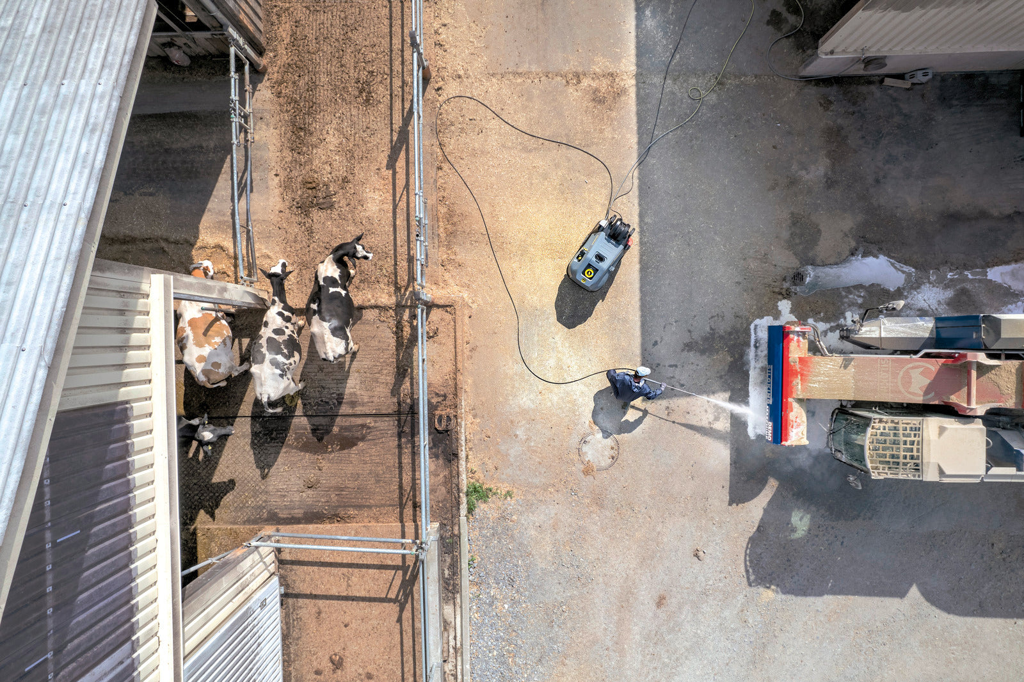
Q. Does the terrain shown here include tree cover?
No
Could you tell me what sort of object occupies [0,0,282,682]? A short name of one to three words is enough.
barn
